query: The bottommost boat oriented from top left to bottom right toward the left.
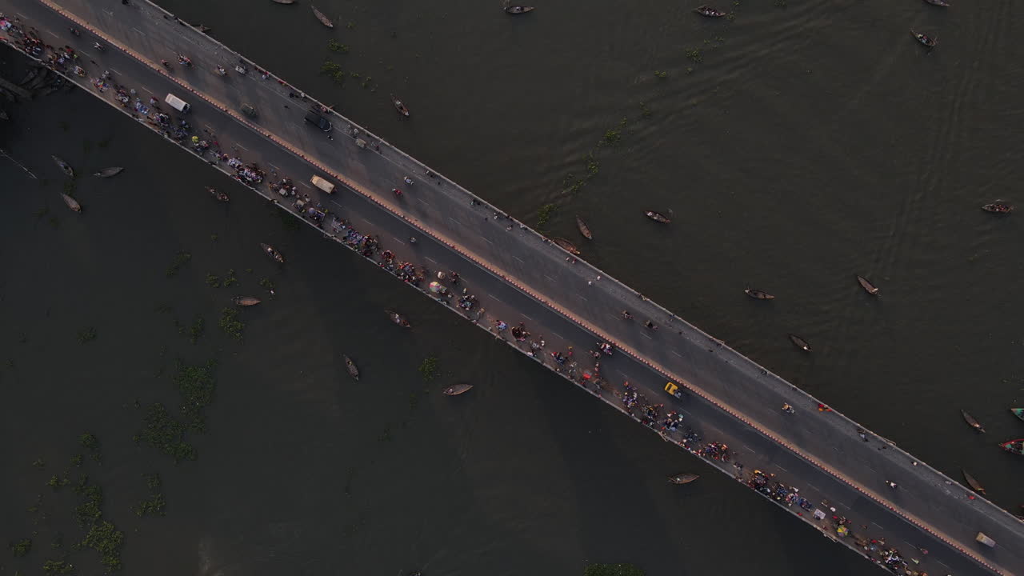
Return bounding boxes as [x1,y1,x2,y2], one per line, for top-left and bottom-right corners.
[342,355,359,382]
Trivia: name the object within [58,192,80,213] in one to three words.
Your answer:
boat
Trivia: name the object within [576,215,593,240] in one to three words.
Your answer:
boat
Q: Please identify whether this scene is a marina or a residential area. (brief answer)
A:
marina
